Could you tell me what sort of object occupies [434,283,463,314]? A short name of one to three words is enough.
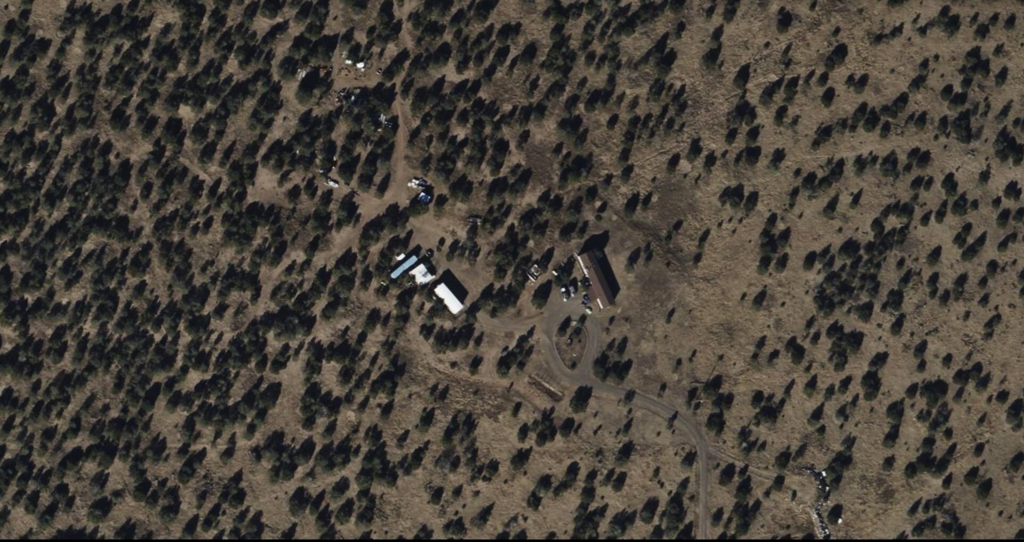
shed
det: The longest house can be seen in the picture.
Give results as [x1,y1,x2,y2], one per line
[575,249,617,310]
